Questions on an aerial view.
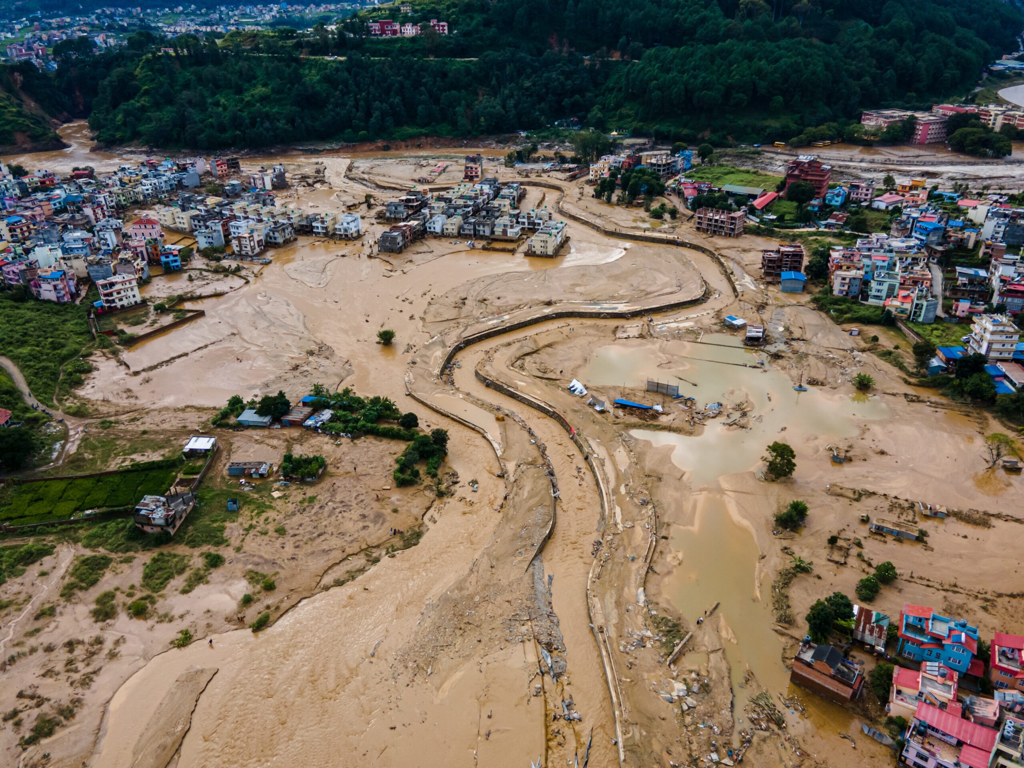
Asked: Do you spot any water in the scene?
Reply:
Yes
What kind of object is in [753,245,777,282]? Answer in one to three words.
building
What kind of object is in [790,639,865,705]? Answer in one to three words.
house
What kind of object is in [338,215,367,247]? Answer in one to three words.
house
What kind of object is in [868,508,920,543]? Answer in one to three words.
shed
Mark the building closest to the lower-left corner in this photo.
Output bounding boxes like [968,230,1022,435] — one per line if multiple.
[134,478,208,535]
